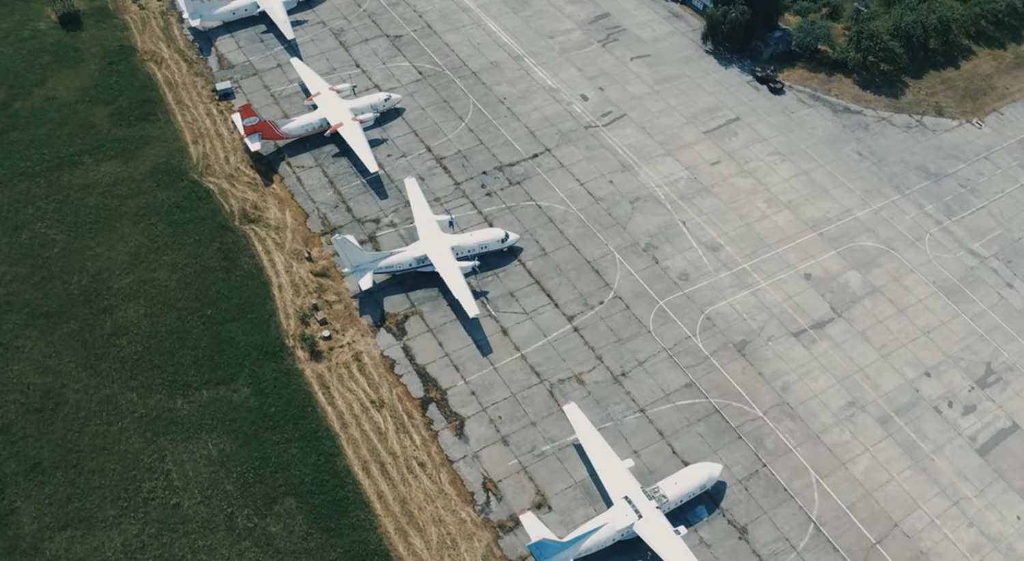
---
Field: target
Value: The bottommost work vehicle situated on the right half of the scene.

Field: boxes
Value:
[757,67,787,92]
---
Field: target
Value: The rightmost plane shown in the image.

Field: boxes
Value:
[515,403,727,561]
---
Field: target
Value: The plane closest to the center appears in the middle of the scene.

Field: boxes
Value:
[329,175,519,319]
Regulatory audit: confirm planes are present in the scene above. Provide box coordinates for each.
[515,403,727,561]
[230,54,402,172]
[329,175,519,319]
[178,0,306,39]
